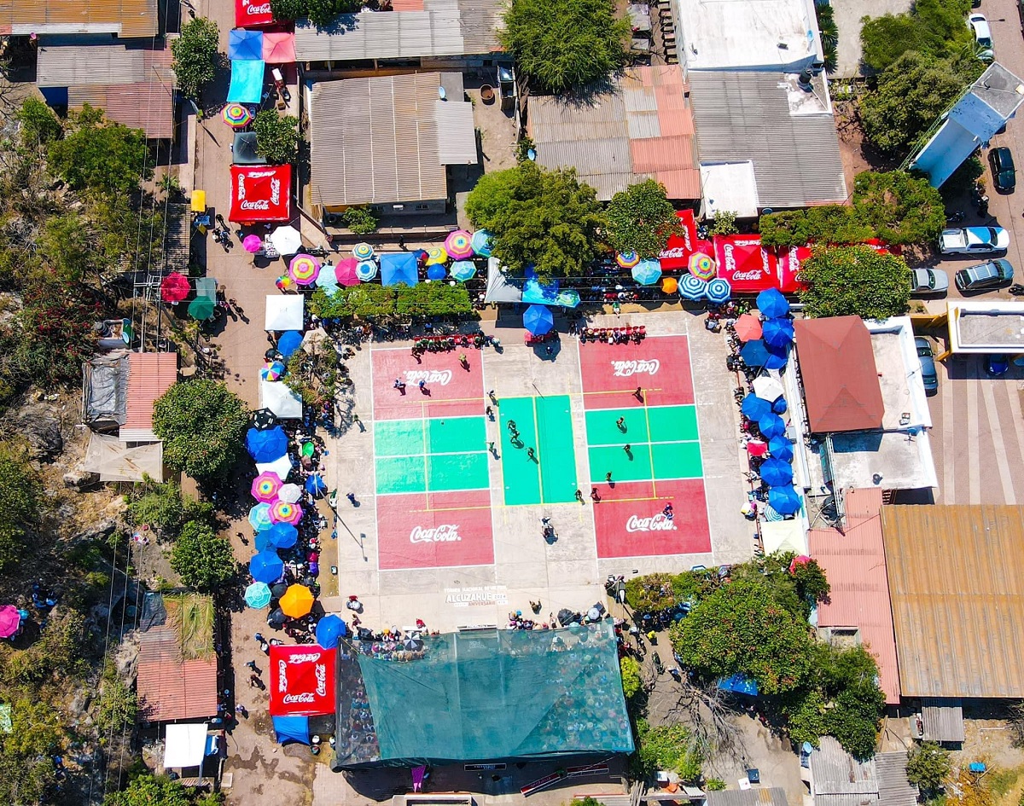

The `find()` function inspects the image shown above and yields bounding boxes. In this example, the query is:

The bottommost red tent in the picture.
[270,644,335,716]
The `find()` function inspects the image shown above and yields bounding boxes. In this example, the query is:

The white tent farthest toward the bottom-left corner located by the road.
[163,720,216,767]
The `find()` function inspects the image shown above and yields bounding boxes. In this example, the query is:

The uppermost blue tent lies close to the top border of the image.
[228,31,268,74]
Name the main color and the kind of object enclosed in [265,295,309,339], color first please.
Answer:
white tent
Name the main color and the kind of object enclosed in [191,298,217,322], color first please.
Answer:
green umbrella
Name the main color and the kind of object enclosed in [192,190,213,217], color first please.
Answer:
yellow tent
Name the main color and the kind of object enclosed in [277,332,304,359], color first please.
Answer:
blue umbrella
